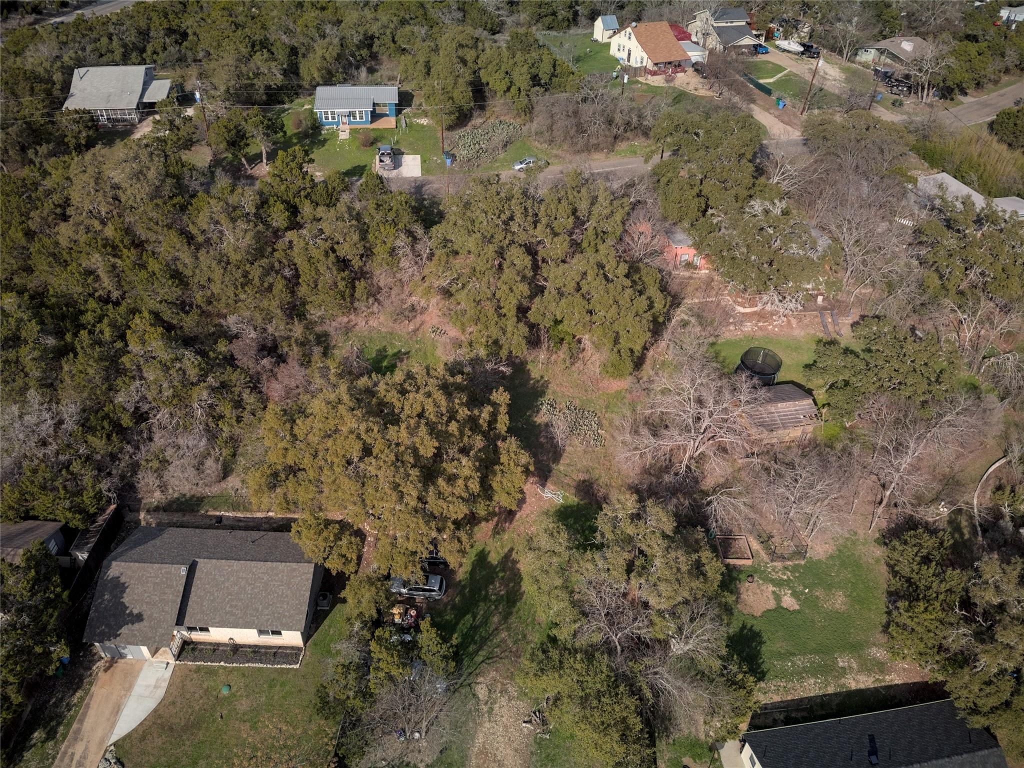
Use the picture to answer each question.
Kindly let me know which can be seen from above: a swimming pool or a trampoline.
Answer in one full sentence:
Looking from above, you can make out a trampoline.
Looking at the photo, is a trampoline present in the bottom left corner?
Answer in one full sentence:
No, I see no trampoline in the bottom left corner.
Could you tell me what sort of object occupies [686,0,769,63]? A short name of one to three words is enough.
house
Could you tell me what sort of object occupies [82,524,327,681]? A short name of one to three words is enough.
house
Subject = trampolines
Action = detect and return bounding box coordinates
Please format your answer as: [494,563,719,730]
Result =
[737,343,785,389]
